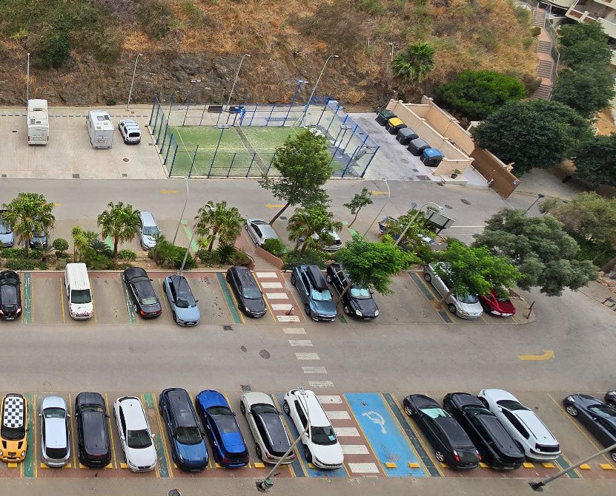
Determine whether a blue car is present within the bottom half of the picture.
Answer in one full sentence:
Yes, within the bottom half of the picture there is a blue car.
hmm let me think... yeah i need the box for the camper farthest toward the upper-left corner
[27,96,50,145]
